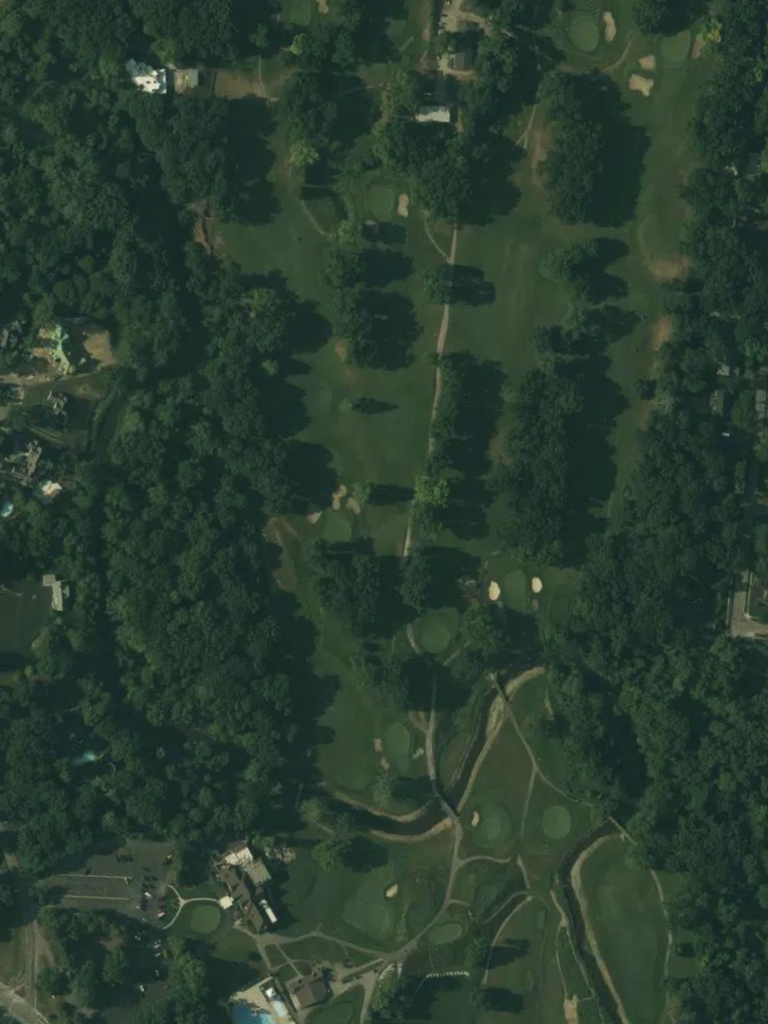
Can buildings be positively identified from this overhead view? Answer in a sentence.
Yes, the image includes a building.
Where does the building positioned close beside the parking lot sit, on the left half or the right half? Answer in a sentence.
The building positioned close beside the parking lot is on the left side of the image.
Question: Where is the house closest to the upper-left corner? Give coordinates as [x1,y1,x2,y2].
[131,61,166,94]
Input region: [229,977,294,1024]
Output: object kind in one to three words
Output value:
swimming pool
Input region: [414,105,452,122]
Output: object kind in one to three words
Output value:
shed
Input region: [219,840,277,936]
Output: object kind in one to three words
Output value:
building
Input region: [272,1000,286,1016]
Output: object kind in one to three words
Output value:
swimming pool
